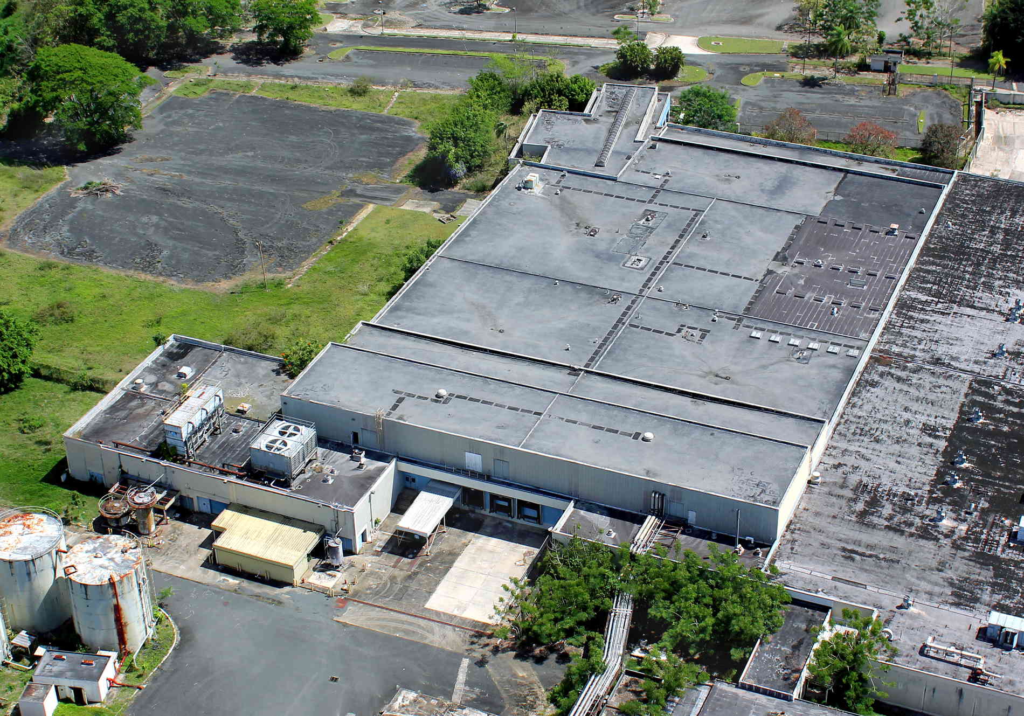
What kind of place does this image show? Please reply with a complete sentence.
What you see here is an industrial area.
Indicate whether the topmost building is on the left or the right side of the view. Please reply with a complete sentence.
The topmost building is on the right side of the image.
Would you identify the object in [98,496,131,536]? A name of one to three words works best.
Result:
storage tank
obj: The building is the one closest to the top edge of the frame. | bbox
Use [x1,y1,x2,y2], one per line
[867,45,908,73]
